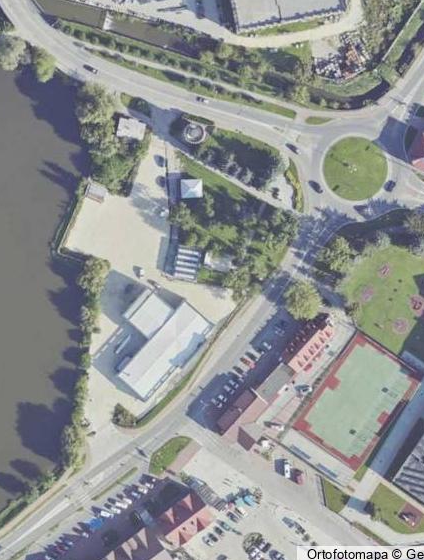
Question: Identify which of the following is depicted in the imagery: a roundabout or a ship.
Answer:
roundabout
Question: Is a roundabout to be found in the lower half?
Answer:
No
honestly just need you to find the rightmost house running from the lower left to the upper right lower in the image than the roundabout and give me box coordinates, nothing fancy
[280,315,338,374]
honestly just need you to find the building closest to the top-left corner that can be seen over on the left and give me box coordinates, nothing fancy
[115,119,146,139]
